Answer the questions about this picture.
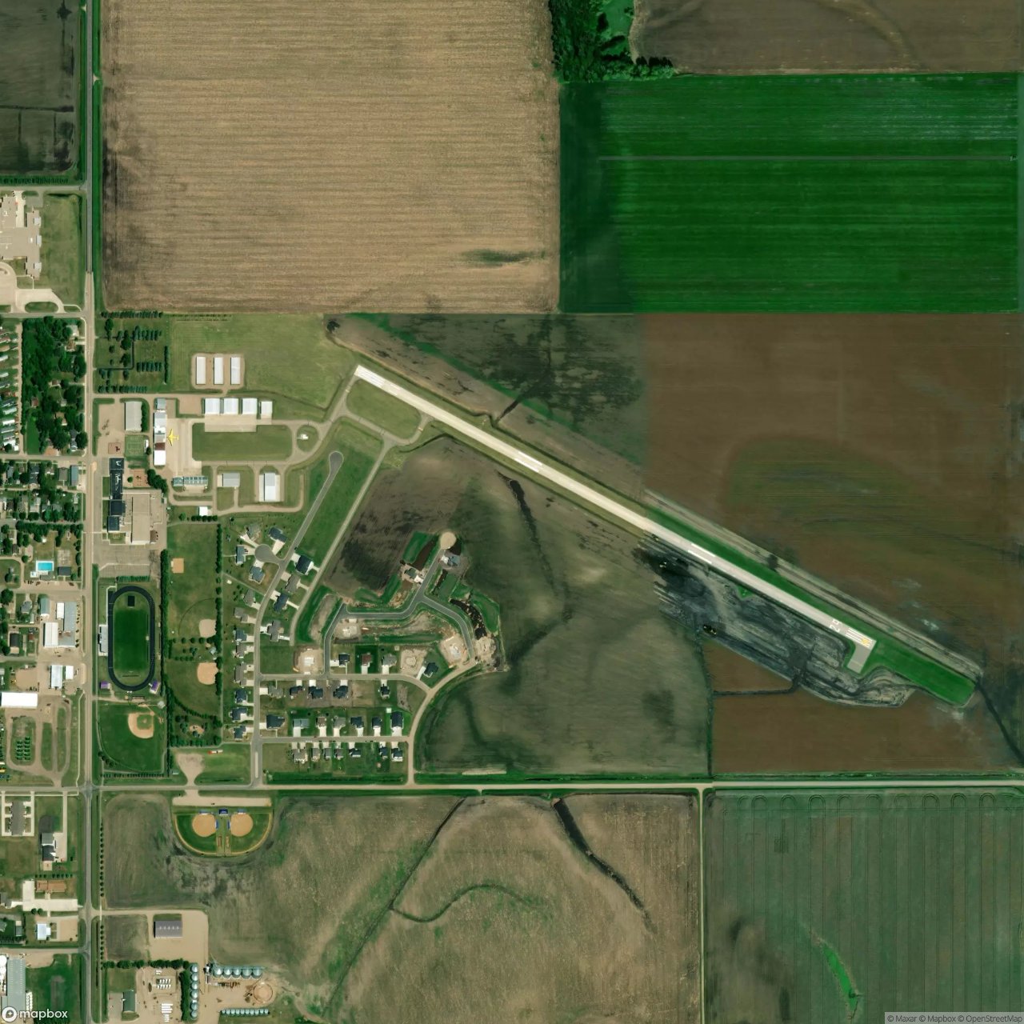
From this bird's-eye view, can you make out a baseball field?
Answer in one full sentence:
Yes, a baseball field appears in the view.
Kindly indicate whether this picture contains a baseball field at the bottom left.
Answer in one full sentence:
Yes, there is a baseball field at the bottom left.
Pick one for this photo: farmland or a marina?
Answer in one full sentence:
It's farmland.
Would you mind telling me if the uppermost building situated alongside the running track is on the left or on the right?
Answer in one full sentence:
It is on the left.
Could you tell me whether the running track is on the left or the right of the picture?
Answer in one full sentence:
The running track is on the left side of the image.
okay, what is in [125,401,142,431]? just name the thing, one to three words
shed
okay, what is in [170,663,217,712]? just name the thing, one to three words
baseball field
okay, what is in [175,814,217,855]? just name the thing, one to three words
baseball field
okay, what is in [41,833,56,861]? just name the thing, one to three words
building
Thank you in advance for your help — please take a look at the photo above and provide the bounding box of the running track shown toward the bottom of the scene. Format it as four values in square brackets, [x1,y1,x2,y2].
[108,586,155,691]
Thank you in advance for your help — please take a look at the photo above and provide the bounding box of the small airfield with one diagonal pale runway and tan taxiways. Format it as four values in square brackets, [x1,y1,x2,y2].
[166,365,876,673]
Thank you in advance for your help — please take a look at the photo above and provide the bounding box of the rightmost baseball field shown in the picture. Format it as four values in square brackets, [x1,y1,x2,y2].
[230,810,272,855]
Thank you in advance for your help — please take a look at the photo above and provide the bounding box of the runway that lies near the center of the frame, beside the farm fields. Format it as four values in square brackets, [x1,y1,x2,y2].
[355,365,876,650]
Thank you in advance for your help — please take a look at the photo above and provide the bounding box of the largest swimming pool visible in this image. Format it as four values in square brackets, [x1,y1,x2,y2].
[36,560,54,575]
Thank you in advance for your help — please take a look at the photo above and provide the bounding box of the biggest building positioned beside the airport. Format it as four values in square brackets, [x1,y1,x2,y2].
[108,458,162,543]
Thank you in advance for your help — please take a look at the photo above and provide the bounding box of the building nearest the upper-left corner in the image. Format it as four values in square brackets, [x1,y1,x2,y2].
[0,196,41,280]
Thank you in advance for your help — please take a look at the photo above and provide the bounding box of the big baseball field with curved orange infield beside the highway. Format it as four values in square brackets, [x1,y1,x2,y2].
[99,704,166,772]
